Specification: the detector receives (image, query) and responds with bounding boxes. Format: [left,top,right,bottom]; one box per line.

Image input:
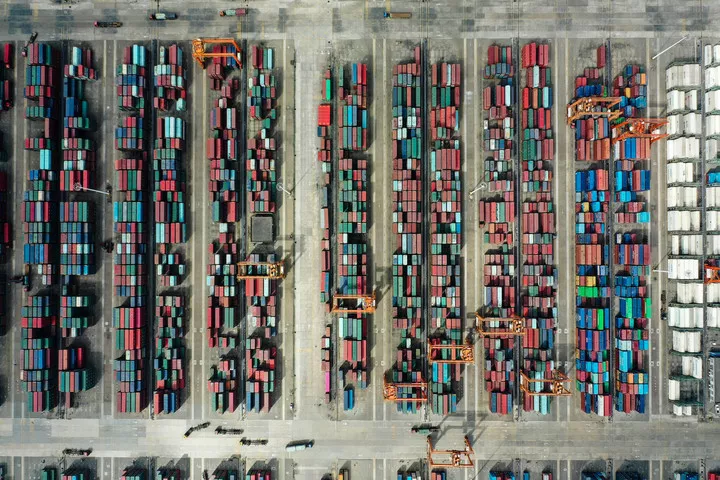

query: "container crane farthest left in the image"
[192,39,241,70]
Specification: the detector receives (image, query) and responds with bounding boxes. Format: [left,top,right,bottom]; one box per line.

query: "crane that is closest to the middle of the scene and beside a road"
[333,290,377,313]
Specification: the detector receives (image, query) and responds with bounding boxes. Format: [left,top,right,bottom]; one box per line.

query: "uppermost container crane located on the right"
[569,97,622,125]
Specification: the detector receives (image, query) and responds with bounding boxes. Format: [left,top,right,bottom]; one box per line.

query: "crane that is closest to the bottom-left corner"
[238,260,288,279]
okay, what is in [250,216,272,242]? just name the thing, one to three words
shed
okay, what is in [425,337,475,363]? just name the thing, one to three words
container crane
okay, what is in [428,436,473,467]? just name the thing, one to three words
container crane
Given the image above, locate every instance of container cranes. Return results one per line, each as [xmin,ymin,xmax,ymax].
[383,373,428,402]
[569,97,622,125]
[425,337,475,363]
[428,436,473,467]
[192,39,241,70]
[475,312,526,335]
[333,290,377,313]
[519,369,571,396]
[238,260,288,279]
[612,119,668,145]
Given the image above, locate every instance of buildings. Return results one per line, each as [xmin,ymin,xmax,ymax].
[250,216,272,242]
[713,359,720,403]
